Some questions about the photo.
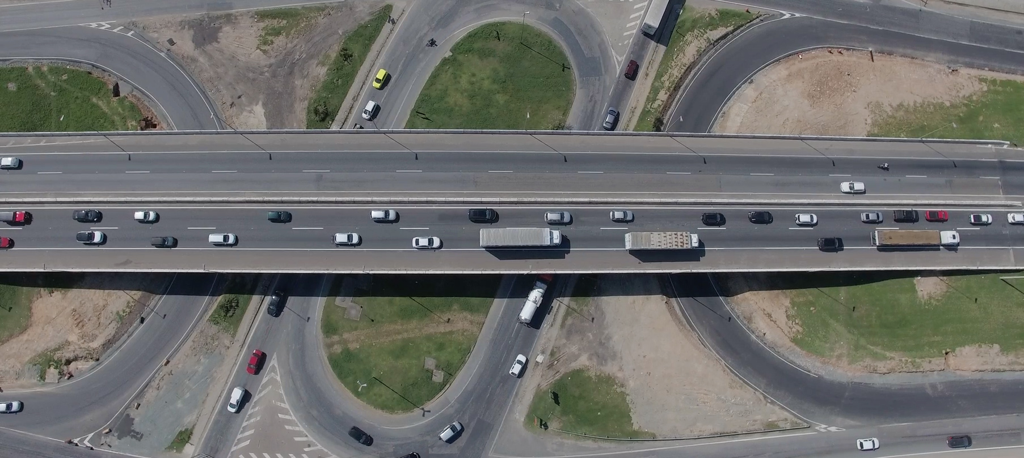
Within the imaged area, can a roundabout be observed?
No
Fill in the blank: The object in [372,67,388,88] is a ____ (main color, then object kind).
yellow car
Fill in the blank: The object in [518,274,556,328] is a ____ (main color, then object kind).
white truck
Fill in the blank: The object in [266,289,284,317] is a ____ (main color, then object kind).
black car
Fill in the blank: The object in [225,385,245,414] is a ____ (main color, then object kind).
white vehicle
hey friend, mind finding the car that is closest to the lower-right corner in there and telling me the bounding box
[947,436,975,450]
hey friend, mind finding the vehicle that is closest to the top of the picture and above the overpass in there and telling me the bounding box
[644,0,672,34]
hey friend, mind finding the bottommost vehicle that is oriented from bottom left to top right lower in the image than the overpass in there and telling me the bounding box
[436,421,463,447]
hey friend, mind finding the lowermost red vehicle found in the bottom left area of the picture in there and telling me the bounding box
[245,349,263,377]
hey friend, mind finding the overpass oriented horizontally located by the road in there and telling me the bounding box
[0,130,1024,274]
